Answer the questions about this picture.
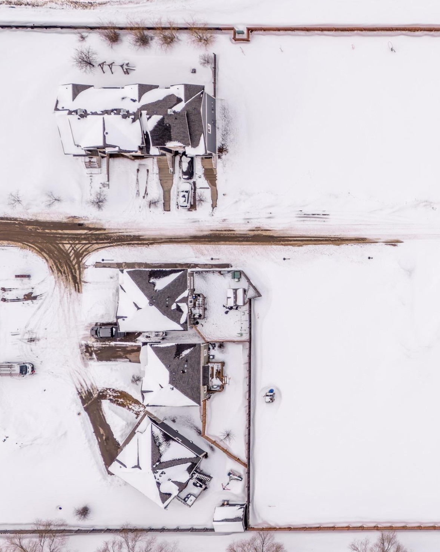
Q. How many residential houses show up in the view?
4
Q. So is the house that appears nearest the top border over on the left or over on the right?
left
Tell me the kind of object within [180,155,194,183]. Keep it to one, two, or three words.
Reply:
car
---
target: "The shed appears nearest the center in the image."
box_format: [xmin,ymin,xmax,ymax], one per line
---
[227,288,247,307]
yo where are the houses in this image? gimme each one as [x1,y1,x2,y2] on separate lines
[140,342,228,407]
[54,84,216,181]
[117,268,205,331]
[109,410,213,509]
